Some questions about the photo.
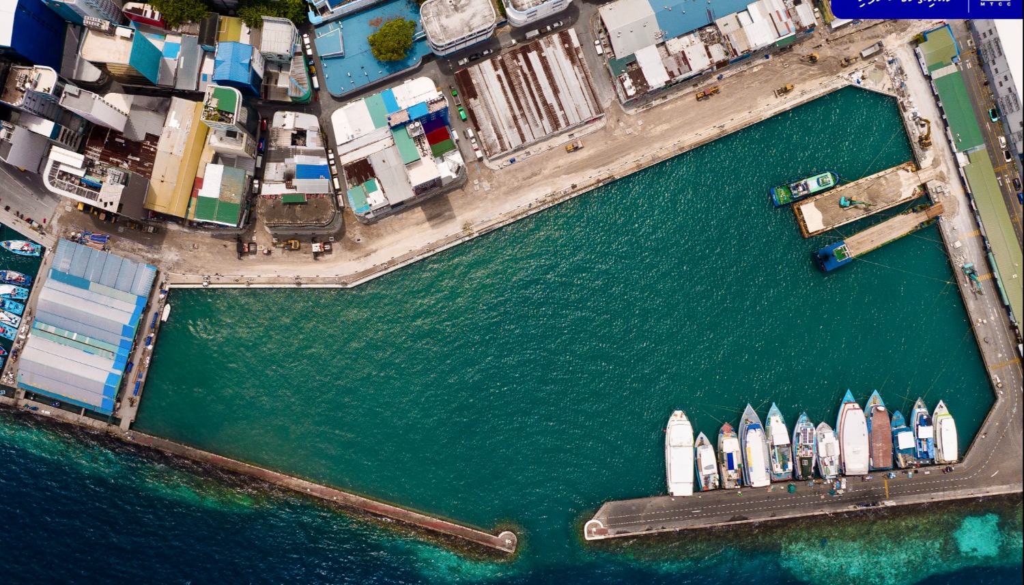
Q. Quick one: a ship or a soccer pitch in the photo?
ship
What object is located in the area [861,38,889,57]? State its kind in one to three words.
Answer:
vehicle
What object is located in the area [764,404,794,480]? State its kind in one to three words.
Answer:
boat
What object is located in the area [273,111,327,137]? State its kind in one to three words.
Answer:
building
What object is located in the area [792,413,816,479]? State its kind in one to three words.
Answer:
boat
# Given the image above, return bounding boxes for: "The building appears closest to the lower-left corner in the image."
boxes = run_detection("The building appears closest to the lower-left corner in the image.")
[17,238,160,418]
